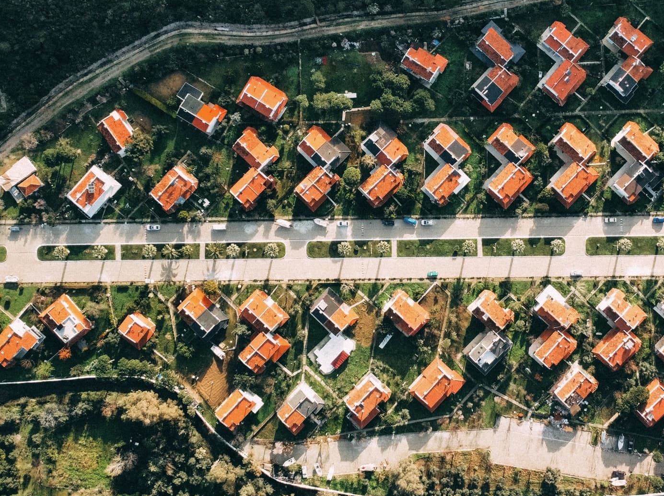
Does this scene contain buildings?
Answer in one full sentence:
Yes, you can see a building in this photo.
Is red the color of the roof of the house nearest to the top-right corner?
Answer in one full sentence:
Yes, the roof of the house nearest to the top-right corner is red.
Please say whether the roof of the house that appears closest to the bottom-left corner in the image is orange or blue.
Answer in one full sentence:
The roof of the house that appears closest to the bottom-left corner is orange.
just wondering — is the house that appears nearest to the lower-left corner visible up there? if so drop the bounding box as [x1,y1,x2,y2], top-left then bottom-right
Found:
[0,317,44,367]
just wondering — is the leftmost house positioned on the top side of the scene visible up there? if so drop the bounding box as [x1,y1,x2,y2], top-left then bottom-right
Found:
[0,157,47,203]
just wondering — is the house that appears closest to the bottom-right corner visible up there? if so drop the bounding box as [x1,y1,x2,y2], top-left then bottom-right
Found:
[631,378,664,432]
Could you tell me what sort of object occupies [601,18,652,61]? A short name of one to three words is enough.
house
